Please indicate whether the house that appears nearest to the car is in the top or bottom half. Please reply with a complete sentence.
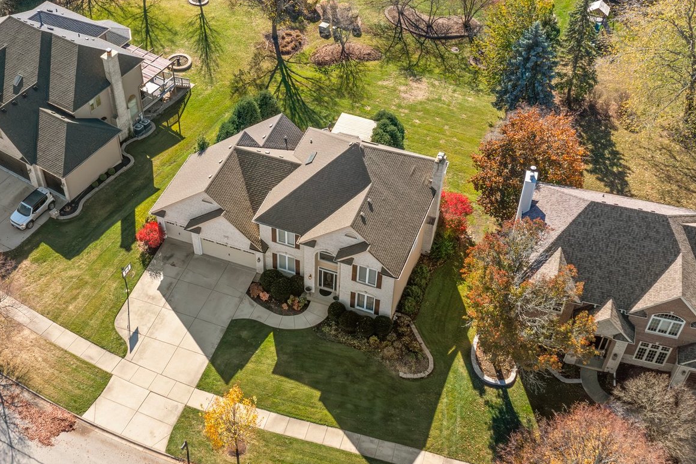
The house that appears nearest to the car is in the top half of the image.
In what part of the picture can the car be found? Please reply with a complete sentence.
The car is located in the left region of the scene.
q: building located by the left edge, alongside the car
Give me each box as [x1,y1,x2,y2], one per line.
[0,3,145,201]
